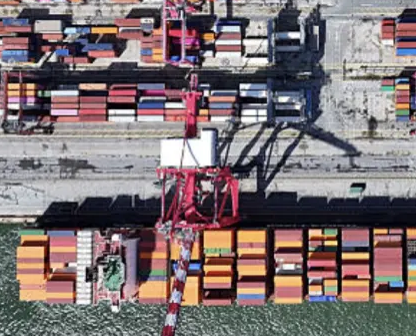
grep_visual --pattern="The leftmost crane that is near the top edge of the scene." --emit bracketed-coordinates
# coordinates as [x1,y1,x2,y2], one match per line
[162,0,203,69]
